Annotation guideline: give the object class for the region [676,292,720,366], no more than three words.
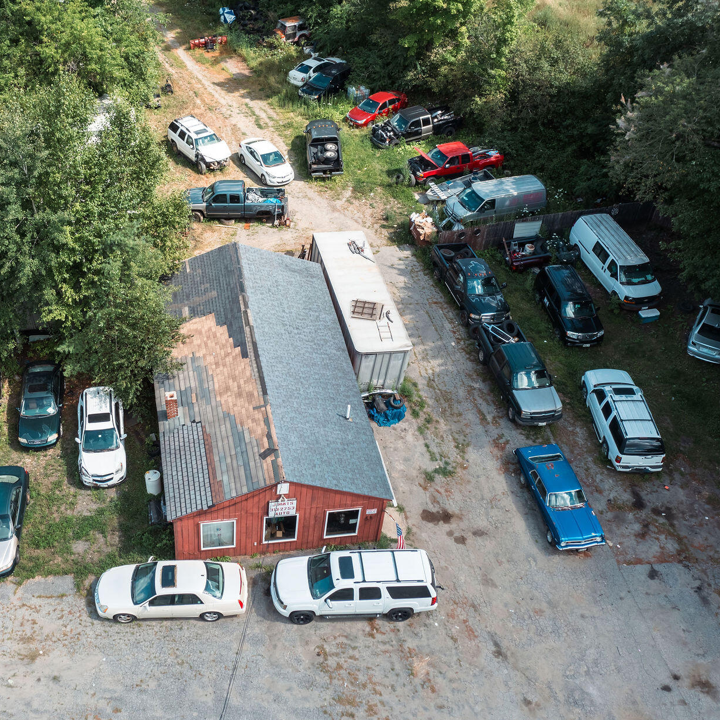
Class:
car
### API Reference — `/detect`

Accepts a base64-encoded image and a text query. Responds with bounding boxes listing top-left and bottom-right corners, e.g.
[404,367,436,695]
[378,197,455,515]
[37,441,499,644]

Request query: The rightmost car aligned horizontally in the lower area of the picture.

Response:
[270,545,438,619]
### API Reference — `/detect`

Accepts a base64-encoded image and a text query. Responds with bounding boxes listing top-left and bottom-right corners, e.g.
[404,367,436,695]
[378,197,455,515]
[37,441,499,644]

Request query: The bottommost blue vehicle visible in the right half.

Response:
[508,443,600,551]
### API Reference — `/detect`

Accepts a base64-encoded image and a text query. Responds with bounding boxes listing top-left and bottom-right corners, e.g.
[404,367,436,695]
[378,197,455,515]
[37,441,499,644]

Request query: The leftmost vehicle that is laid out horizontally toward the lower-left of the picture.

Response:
[92,558,248,625]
